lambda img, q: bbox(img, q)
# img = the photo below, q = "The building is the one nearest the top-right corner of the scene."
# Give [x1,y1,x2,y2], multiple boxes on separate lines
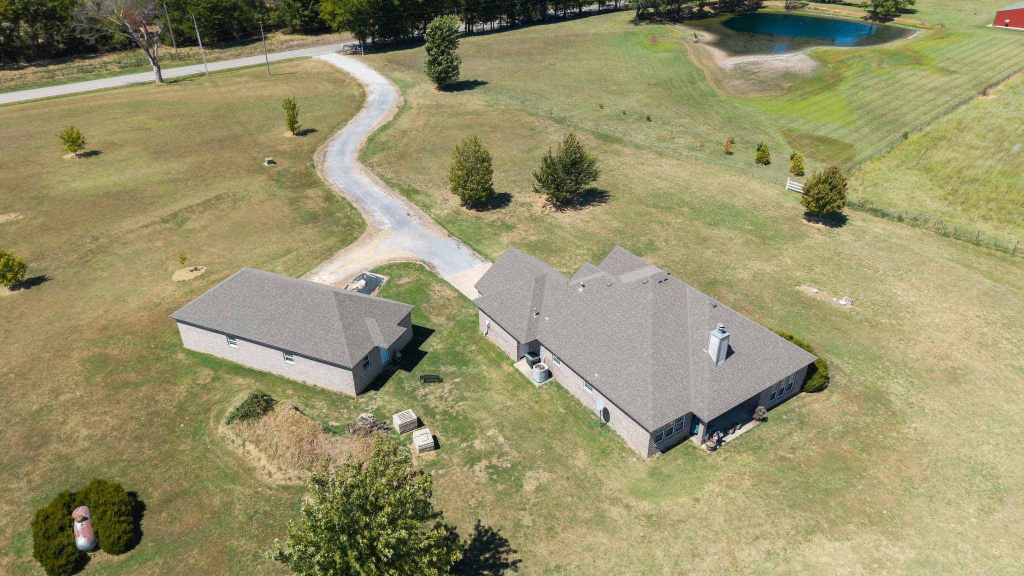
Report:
[980,2,1024,30]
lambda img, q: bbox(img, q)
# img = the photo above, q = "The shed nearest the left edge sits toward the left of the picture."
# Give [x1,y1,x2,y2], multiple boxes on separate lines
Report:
[168,266,415,396]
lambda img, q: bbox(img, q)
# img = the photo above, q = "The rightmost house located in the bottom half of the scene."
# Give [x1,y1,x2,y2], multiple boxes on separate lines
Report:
[472,245,820,458]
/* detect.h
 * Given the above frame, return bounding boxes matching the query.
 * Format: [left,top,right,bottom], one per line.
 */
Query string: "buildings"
[980,2,1024,30]
[472,245,820,458]
[168,266,415,396]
